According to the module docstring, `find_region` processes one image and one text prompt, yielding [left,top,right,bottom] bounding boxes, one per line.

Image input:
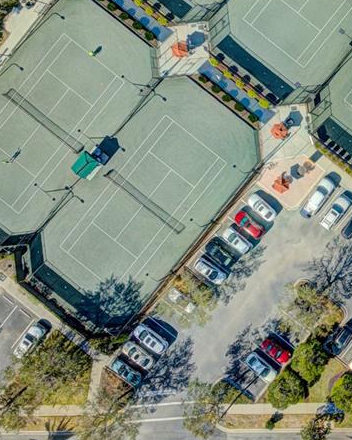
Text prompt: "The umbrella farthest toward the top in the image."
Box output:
[173,40,191,57]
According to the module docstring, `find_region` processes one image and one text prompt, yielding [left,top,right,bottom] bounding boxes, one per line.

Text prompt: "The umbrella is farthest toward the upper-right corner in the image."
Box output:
[273,121,289,137]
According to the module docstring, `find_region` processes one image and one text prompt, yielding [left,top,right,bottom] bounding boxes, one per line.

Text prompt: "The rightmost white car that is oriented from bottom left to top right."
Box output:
[320,195,349,229]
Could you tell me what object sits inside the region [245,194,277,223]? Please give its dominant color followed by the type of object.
white car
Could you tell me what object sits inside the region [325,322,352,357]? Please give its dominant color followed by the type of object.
black car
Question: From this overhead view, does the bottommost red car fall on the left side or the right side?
right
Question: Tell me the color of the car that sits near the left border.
white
